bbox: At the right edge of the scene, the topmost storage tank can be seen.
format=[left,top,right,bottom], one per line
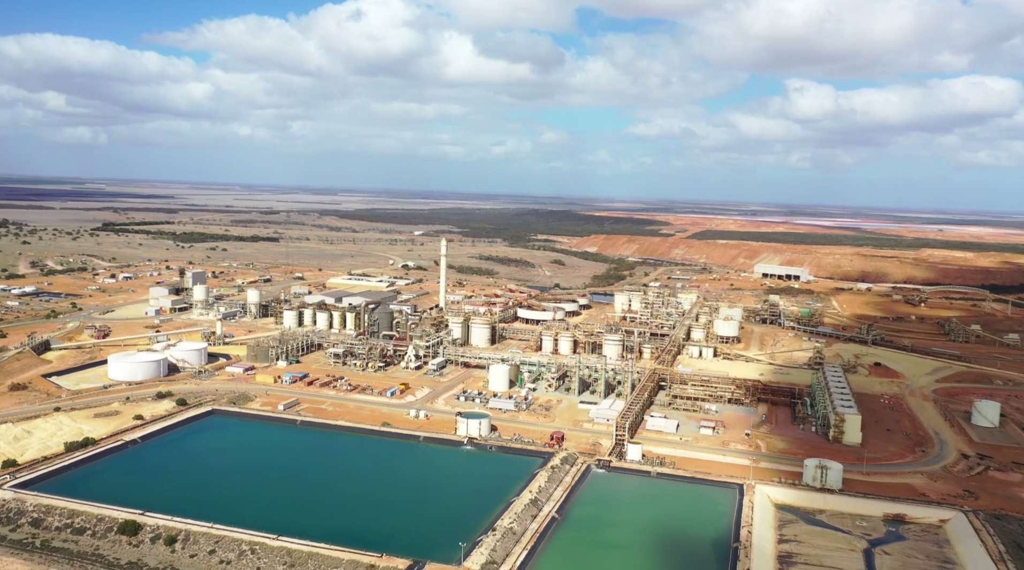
[970,396,1007,429]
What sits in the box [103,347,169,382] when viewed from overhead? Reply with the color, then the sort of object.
white storage tank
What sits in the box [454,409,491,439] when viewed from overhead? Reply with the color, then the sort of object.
white storage tank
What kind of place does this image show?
industrial area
